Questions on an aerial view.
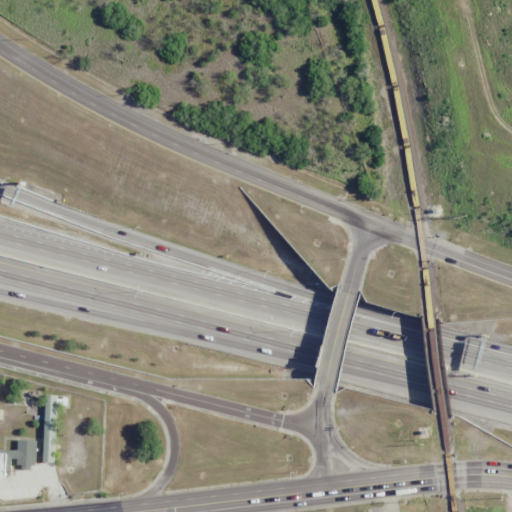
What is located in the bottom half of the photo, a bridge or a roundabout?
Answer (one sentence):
There is a bridge in the bottom half of the photo.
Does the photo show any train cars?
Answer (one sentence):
Yes, I can see a train car in this picture.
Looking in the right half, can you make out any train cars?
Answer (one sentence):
Yes, in the right half there is a train car.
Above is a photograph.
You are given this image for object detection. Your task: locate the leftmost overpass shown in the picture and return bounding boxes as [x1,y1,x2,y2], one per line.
[313,288,360,394]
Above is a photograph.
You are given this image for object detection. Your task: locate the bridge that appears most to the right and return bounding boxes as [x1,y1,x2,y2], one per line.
[420,314,454,421]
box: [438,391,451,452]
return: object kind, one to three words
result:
rail car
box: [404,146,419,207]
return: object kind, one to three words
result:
rail car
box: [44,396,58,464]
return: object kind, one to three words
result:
building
